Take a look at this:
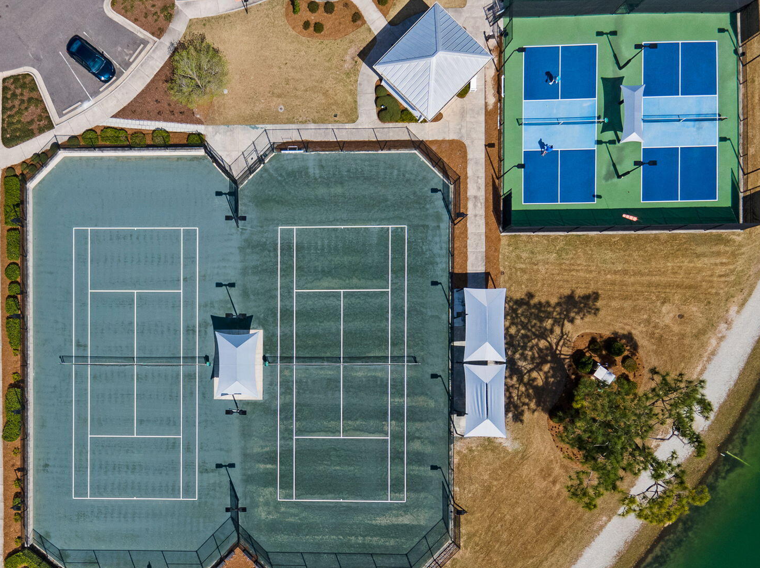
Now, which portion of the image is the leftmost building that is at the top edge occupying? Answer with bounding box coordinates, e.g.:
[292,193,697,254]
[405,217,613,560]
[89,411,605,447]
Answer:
[371,1,494,127]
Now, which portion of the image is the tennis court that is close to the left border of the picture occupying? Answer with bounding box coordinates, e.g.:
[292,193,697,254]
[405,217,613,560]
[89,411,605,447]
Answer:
[25,150,239,568]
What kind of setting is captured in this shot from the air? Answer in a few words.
sports ground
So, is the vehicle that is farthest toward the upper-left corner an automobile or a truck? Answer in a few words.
automobile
